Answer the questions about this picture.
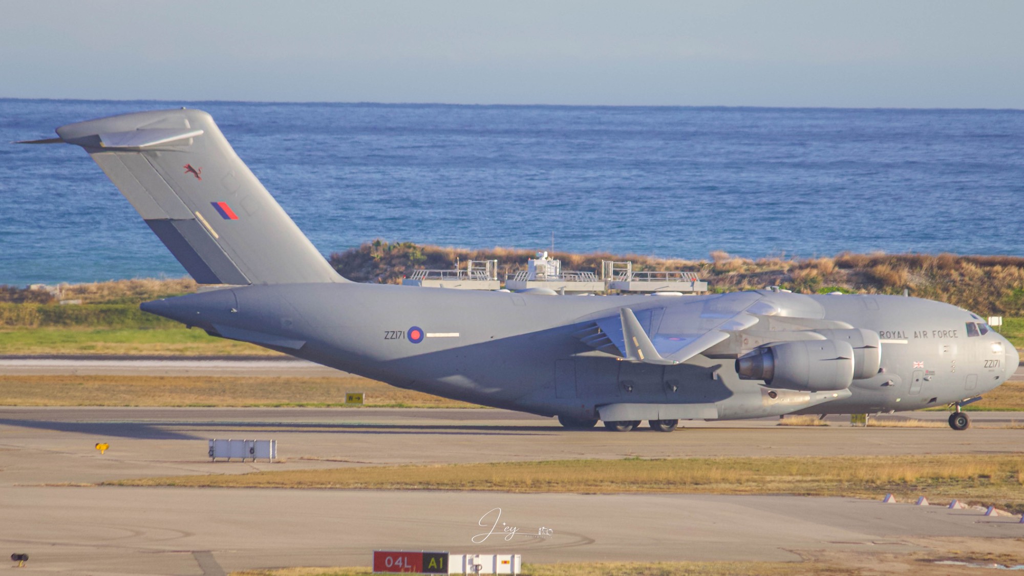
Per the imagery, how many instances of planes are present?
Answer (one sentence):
Only 1 plane is visible.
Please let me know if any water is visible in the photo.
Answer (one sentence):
Yes, water shows up in the scene.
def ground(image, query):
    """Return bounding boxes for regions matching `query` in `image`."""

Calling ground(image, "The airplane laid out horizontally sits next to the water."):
[27,106,1017,429]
